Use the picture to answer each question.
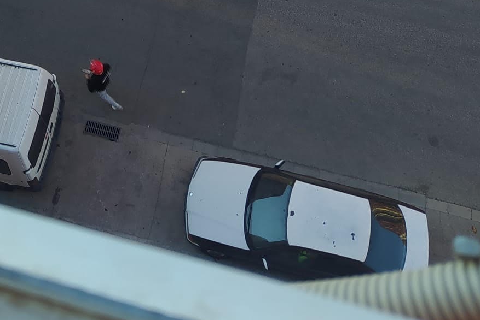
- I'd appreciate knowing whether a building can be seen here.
No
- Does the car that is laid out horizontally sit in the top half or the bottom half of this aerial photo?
bottom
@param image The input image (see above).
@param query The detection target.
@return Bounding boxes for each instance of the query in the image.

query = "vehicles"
[0,64,71,188]
[174,151,432,282]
